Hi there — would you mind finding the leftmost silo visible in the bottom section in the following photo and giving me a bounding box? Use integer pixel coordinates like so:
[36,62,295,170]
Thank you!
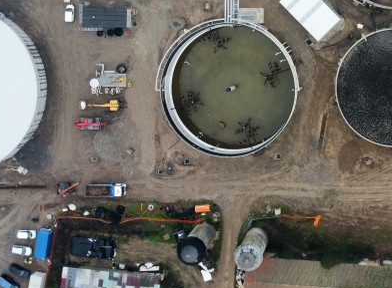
[174,223,216,267]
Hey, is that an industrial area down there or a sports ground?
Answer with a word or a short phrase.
industrial area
